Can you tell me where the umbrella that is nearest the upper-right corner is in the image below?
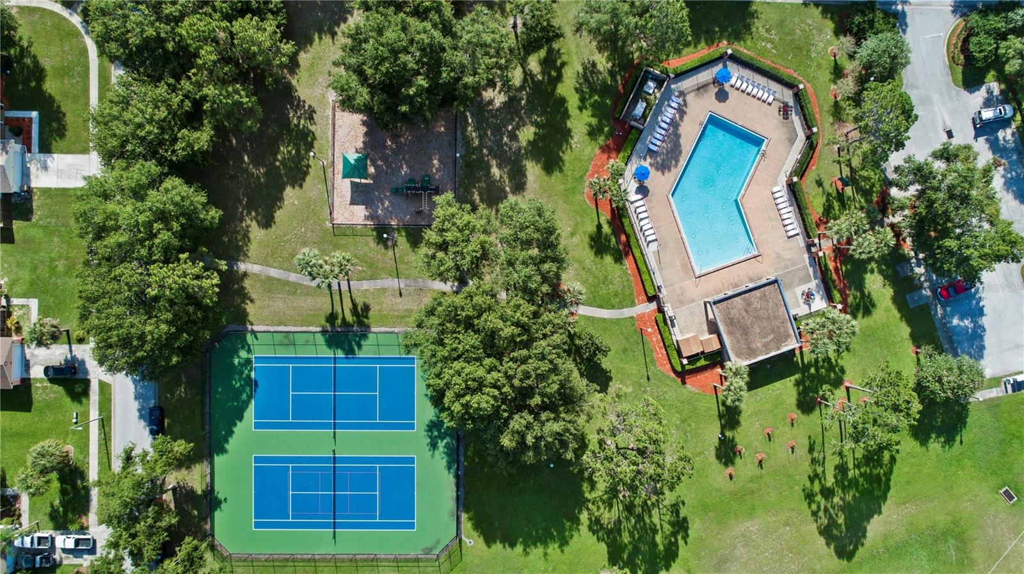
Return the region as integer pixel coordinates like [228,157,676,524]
[714,67,731,84]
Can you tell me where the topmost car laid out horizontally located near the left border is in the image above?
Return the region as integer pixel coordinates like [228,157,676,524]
[45,364,79,380]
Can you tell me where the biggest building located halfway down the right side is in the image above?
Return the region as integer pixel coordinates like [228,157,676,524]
[703,275,800,364]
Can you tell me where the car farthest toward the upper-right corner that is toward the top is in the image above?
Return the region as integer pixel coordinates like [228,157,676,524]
[972,106,1011,127]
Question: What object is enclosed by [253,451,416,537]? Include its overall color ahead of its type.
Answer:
blue tennis court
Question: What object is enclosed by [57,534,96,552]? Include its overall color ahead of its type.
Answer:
white vehicle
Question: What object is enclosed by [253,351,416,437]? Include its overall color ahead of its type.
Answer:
blue tennis court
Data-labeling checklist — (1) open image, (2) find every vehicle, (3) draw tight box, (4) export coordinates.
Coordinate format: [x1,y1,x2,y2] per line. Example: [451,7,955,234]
[45,364,79,380]
[935,277,977,301]
[972,106,1011,127]
[148,405,166,437]
[16,533,56,551]
[57,534,96,552]
[17,553,56,571]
